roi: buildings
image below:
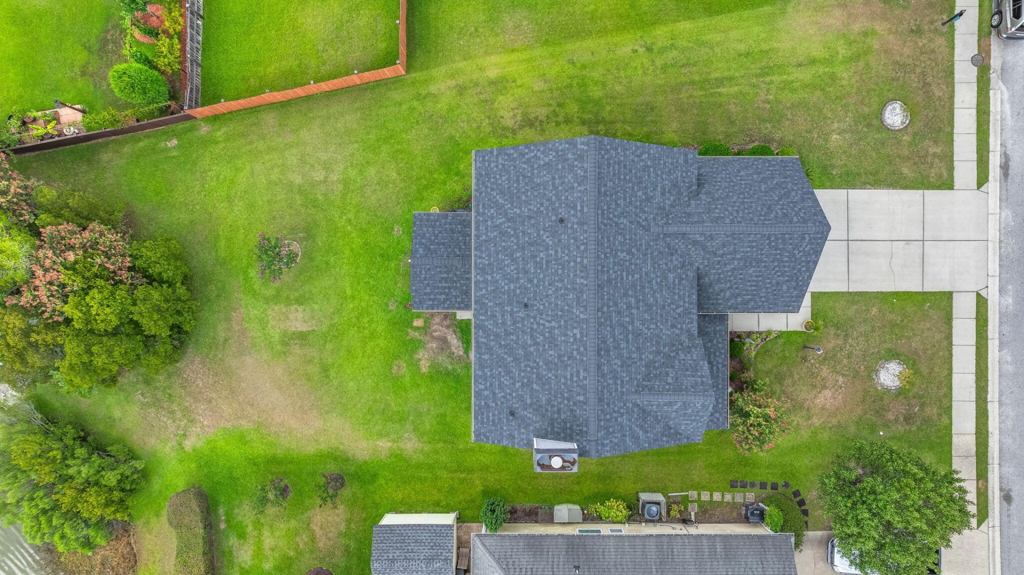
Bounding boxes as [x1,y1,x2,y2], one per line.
[371,510,458,575]
[410,136,831,474]
[471,522,798,575]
